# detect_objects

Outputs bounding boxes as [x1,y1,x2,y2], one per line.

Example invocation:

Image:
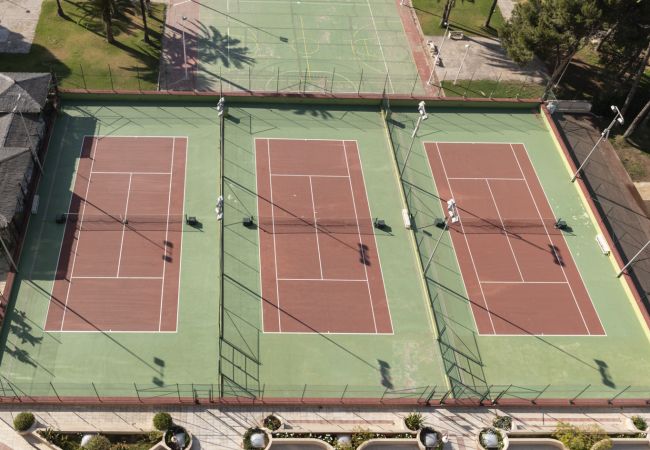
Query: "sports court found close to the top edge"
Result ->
[159,0,446,96]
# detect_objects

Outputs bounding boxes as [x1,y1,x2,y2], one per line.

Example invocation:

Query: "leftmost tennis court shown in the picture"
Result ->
[0,100,220,396]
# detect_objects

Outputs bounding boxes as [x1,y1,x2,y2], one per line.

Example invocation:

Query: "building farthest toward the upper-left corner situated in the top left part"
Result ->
[0,72,54,135]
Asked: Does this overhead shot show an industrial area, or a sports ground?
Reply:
sports ground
